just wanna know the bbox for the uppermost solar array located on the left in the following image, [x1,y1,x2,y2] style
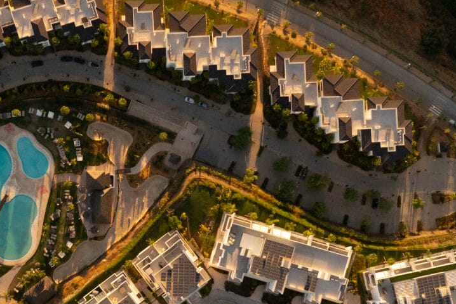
[167,259,196,297]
